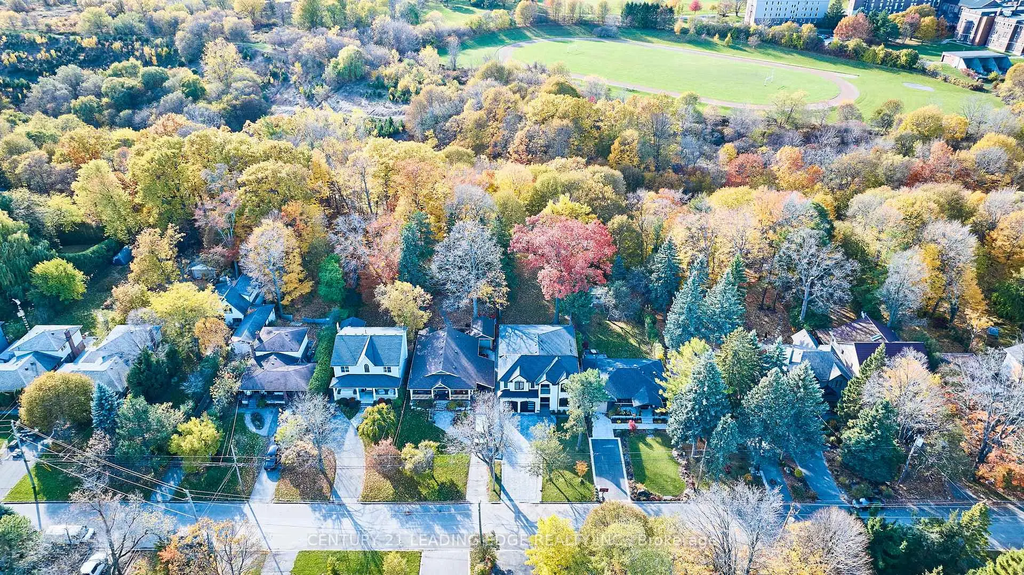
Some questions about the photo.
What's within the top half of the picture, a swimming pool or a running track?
running track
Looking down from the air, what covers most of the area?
trees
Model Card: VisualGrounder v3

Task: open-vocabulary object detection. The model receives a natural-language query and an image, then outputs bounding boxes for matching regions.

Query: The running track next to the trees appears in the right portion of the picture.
[497,37,860,109]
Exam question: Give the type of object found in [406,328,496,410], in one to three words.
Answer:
house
